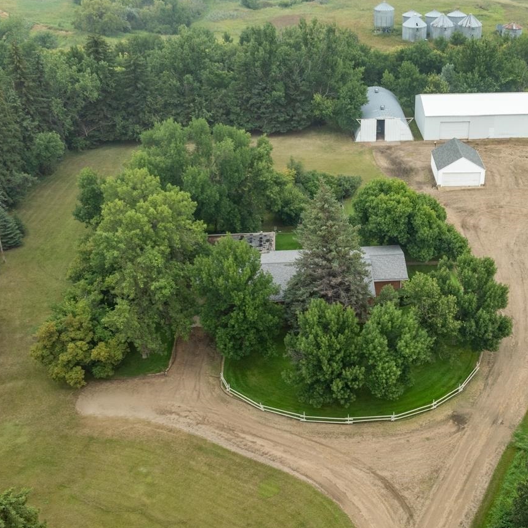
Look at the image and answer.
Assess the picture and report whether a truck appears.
No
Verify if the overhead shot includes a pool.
No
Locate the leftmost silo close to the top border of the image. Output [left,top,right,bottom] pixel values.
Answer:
[373,0,394,31]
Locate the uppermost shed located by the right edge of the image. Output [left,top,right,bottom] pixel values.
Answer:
[415,91,528,140]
